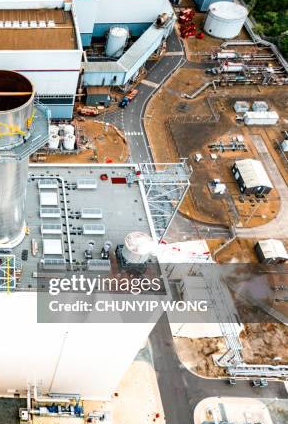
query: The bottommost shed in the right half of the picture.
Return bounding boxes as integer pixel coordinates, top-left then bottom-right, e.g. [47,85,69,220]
[252,238,288,267]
